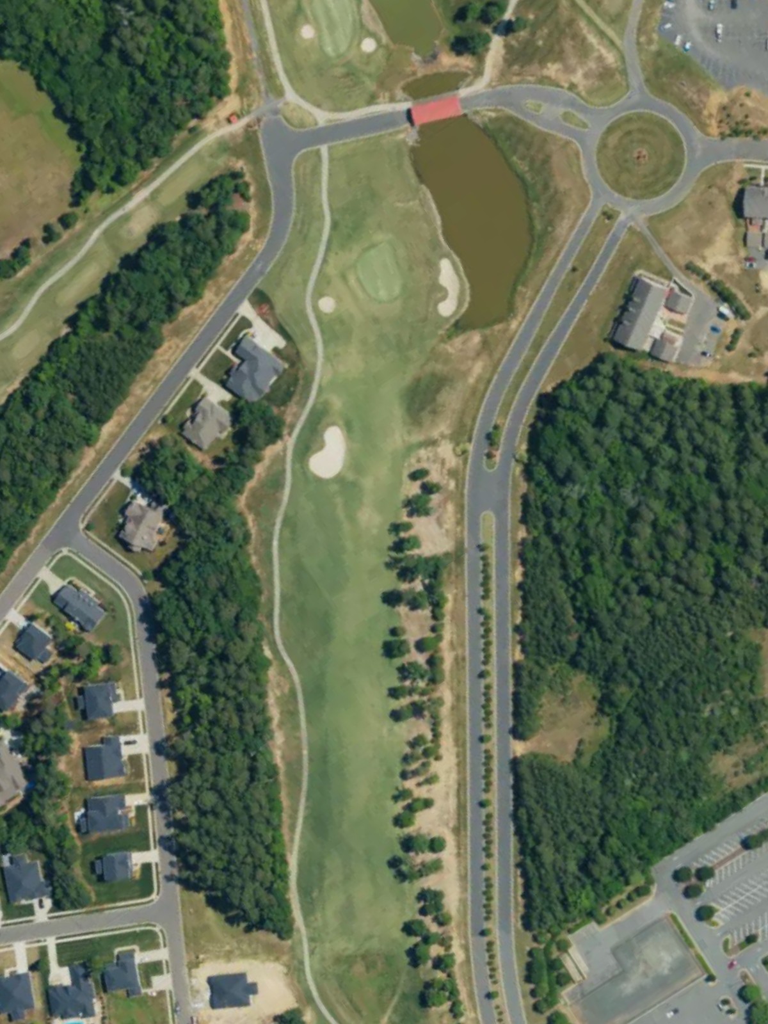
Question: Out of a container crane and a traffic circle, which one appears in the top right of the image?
traffic circle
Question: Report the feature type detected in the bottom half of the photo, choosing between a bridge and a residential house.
residential house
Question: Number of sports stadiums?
0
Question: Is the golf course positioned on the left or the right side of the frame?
left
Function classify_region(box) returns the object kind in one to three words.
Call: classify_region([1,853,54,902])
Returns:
house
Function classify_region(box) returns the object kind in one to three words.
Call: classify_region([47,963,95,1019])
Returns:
house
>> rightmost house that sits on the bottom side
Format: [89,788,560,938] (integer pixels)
[207,974,260,1008]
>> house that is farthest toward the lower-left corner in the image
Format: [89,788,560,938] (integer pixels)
[0,972,36,1021]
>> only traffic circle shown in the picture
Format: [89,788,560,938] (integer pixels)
[583,98,699,213]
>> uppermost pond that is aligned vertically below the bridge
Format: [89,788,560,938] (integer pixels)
[412,114,531,330]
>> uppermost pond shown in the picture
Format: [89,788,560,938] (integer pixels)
[368,0,442,56]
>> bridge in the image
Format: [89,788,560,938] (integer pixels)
[409,89,463,127]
